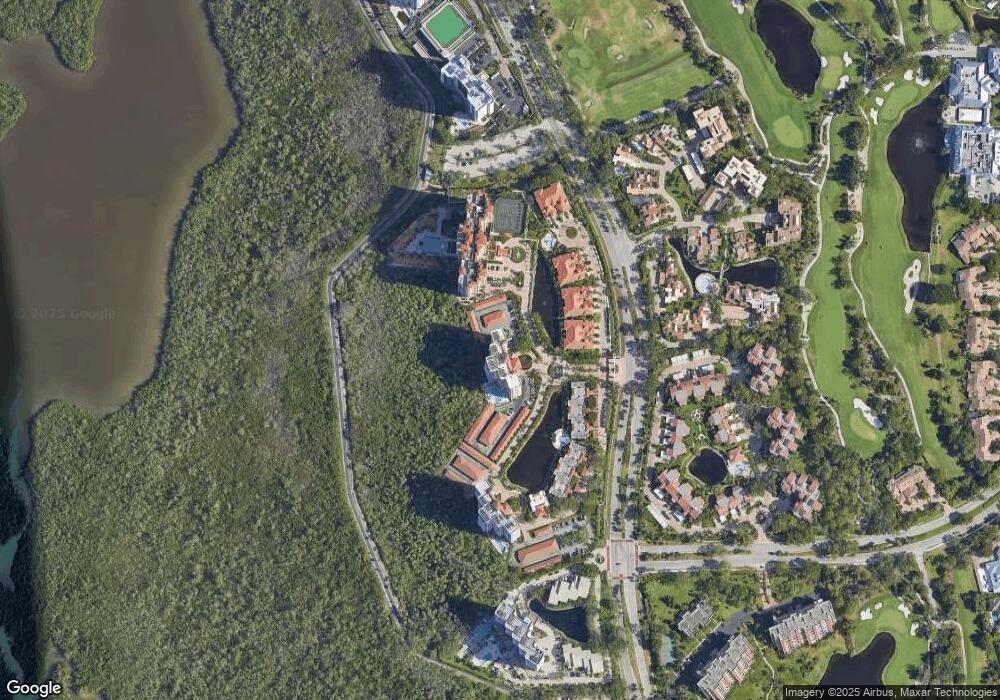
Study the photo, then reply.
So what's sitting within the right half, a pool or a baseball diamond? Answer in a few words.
pool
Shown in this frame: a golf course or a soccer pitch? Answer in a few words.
golf course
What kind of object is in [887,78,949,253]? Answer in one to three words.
pond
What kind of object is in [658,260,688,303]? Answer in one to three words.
house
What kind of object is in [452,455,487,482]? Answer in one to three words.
building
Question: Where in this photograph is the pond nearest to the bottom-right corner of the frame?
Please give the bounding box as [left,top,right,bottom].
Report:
[810,632,896,700]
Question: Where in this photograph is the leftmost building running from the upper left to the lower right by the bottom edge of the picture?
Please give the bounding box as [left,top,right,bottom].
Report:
[495,600,544,673]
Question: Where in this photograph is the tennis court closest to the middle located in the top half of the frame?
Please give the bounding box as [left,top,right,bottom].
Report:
[494,196,525,232]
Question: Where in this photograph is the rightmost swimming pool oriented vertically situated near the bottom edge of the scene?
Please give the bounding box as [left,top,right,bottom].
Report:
[658,632,675,667]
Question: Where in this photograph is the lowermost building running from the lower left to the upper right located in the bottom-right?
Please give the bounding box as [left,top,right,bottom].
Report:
[696,635,758,700]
